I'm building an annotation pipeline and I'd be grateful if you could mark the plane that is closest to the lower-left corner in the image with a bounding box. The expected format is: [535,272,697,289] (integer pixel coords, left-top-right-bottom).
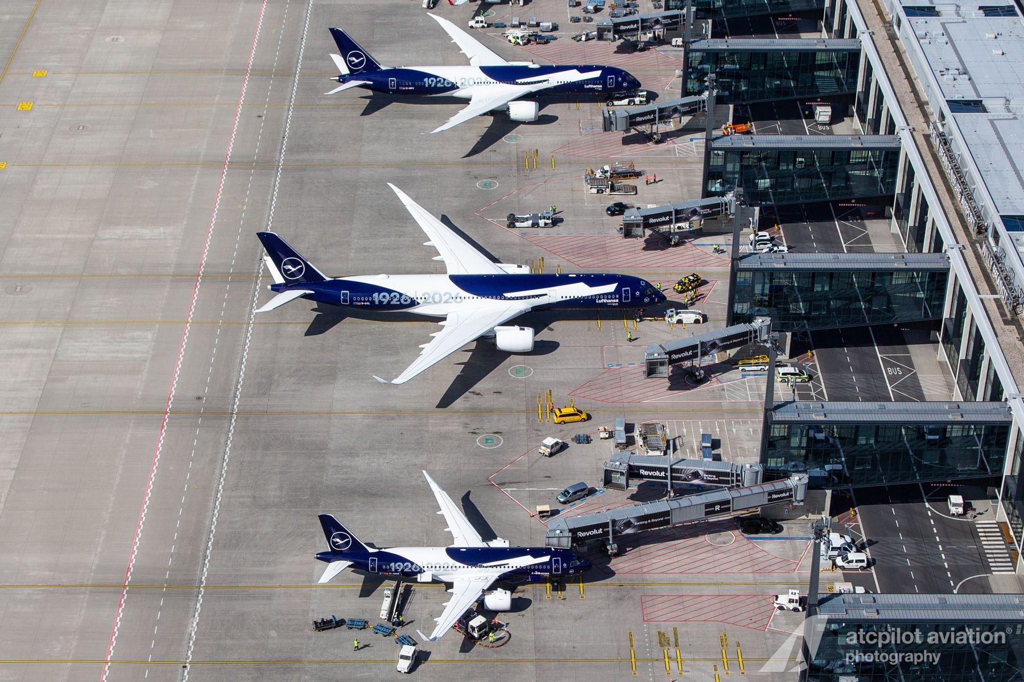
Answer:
[316,469,591,635]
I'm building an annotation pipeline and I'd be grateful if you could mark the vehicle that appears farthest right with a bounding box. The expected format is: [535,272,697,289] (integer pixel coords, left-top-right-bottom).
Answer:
[948,491,965,513]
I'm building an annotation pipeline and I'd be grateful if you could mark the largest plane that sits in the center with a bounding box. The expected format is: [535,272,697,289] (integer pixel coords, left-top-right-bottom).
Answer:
[256,182,668,380]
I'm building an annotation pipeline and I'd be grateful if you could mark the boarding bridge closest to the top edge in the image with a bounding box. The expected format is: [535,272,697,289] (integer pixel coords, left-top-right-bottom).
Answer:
[595,10,696,52]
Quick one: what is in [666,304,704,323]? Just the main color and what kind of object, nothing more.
white work vehicle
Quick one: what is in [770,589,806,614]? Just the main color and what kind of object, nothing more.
white work vehicle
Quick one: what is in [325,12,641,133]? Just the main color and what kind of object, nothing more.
white airplane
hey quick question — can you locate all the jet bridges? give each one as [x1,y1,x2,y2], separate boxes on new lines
[601,93,717,144]
[621,194,742,247]
[601,448,762,503]
[643,318,772,384]
[595,10,696,52]
[547,475,811,559]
